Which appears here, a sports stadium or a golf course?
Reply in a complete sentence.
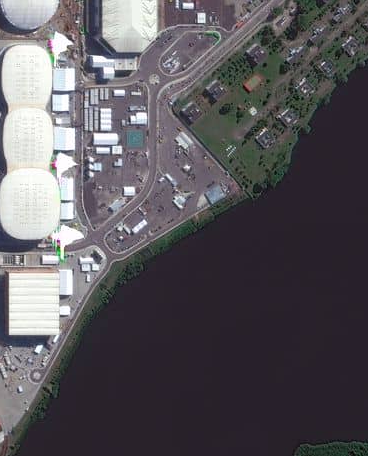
There is a sports stadium in the scene.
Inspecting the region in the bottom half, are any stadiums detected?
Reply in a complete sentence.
Yes, a stadium is visible in the bottom half.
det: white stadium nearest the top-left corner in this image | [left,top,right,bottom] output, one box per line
[0,43,54,108]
